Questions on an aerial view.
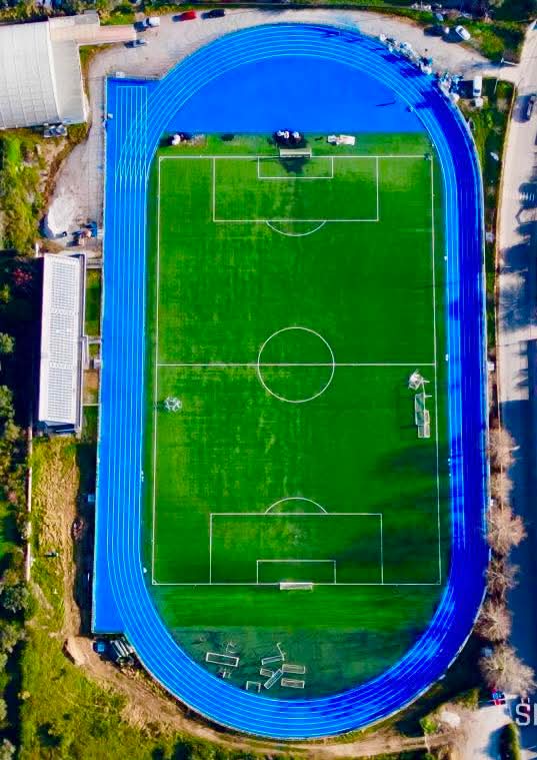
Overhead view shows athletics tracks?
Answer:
Yes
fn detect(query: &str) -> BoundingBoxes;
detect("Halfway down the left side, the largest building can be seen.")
[38,251,90,433]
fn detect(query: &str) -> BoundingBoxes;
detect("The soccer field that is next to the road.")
[142,133,450,702]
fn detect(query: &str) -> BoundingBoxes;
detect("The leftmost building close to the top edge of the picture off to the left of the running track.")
[0,21,90,136]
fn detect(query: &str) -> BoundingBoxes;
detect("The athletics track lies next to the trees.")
[93,22,488,742]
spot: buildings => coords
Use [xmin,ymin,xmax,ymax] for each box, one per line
[38,251,90,433]
[0,21,90,136]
